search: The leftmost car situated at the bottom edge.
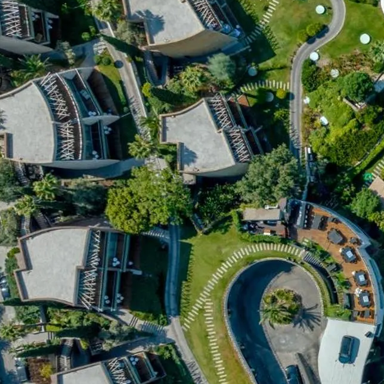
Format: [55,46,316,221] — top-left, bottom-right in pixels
[7,357,27,384]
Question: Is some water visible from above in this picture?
No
